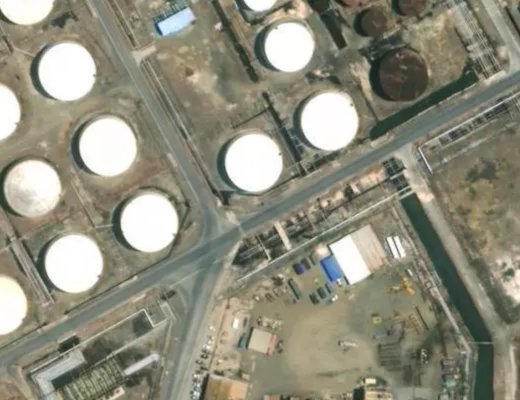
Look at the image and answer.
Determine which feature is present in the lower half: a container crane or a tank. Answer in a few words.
tank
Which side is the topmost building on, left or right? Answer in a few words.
left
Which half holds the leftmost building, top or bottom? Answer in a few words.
bottom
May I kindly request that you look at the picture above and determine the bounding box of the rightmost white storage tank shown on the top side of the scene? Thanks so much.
[299,91,361,153]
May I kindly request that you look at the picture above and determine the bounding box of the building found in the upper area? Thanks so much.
[156,6,197,37]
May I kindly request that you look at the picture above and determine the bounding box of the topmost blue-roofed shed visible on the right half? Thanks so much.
[320,254,344,282]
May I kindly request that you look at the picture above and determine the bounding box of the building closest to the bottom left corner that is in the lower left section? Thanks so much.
[32,347,86,400]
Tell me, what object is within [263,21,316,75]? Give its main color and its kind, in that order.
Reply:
white storage tank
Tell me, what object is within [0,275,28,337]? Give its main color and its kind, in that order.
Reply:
white storage tank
